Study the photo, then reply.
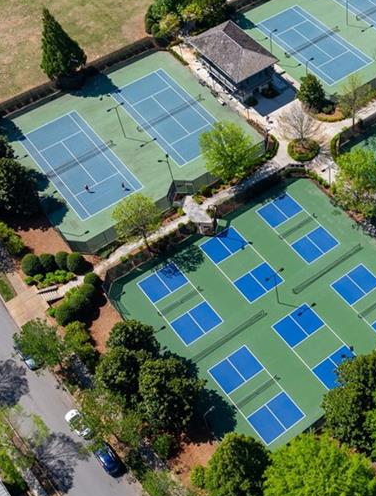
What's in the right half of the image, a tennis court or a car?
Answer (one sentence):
There is a tennis court in the right half of the image.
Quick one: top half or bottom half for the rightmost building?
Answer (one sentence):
You can find the rightmost building in the top half.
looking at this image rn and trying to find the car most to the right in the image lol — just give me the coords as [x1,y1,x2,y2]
[91,440,124,477]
